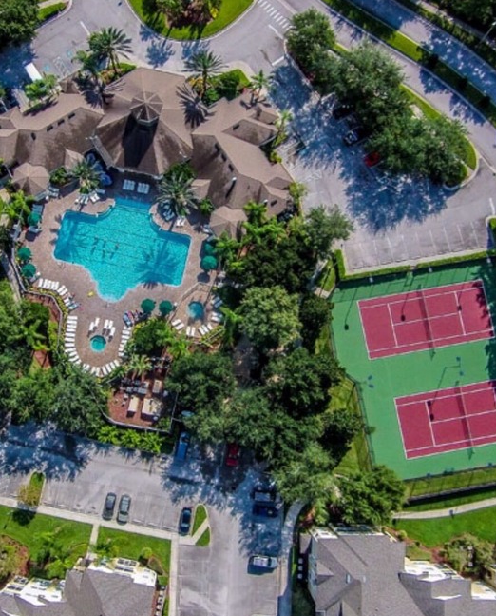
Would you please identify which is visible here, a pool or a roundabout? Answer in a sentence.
Of the two, only a pool appears.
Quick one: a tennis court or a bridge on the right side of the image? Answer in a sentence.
What appears on the right side of the image is a tennis court.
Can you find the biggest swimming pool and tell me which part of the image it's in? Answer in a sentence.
The biggest swimming pool is in the left part of the image.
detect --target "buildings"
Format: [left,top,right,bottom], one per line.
[0,558,164,616]
[307,524,496,616]
[0,68,293,216]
